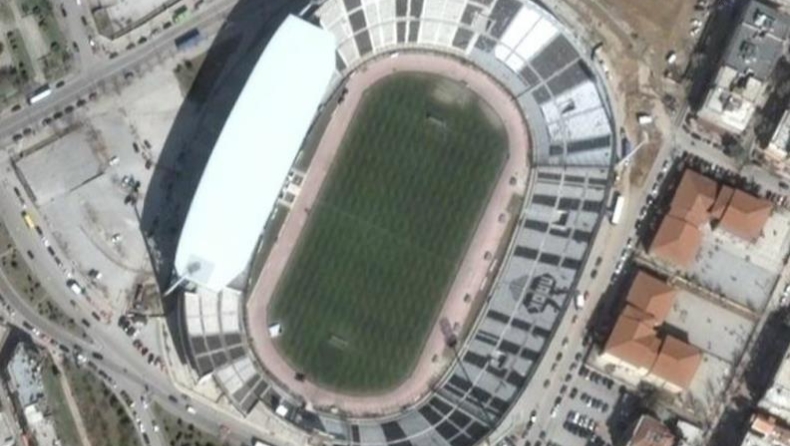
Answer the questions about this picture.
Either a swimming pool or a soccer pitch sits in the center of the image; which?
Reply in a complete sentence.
What appears in the center of the image is a soccer pitch.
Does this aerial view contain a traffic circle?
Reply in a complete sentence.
No, no traffic circle is visible in the view.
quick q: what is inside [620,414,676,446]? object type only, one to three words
house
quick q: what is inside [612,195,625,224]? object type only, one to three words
vehicle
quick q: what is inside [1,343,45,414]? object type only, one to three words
building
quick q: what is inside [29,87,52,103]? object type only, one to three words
vehicle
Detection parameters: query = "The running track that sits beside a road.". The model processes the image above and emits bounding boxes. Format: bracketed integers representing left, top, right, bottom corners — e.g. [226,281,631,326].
[247,52,529,415]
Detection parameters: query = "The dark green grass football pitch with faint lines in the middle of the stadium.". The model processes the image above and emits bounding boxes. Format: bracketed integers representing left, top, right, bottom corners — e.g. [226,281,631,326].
[267,71,509,394]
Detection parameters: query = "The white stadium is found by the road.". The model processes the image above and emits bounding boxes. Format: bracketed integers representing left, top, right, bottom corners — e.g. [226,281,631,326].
[169,0,619,446]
